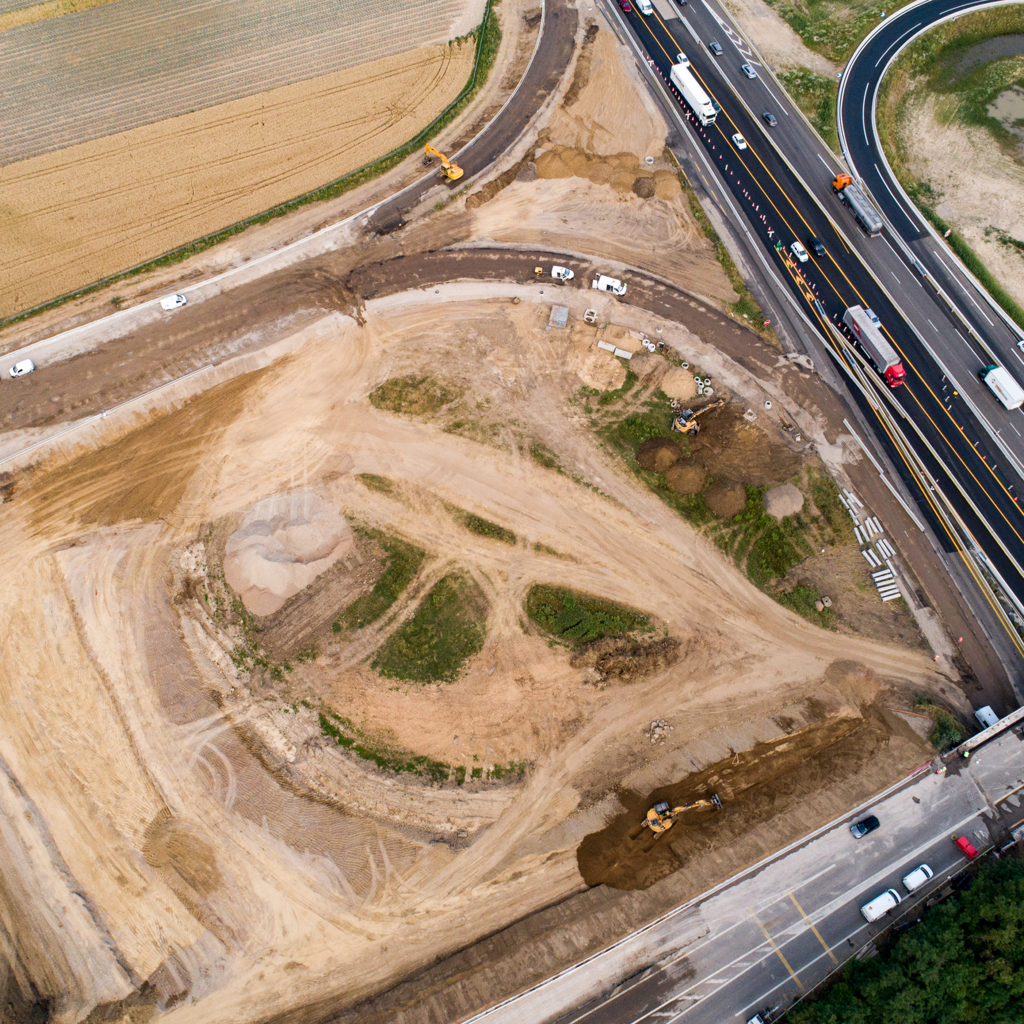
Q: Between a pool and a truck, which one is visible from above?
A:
truck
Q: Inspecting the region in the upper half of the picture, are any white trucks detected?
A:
Yes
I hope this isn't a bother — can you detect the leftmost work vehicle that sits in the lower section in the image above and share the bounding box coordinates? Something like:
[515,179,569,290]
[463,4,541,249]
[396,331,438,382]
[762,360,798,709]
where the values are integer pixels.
[641,796,722,842]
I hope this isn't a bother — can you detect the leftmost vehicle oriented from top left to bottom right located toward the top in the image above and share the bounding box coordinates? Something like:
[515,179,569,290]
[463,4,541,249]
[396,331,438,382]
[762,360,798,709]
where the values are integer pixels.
[423,138,470,189]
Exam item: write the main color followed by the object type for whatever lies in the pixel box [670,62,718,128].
white truck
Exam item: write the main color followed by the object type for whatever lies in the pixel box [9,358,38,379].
white vehicle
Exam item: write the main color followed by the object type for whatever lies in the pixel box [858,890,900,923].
white van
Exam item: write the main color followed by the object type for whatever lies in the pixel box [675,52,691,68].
white car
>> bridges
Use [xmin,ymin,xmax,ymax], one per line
[942,706,1024,764]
